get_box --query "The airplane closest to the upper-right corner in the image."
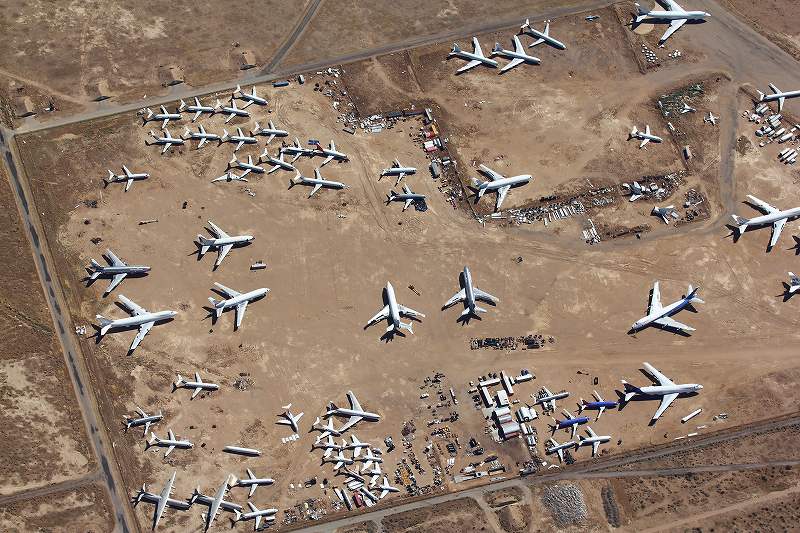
[761,84,800,113]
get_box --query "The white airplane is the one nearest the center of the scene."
[368,281,424,330]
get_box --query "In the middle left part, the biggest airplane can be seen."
[98,295,178,350]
